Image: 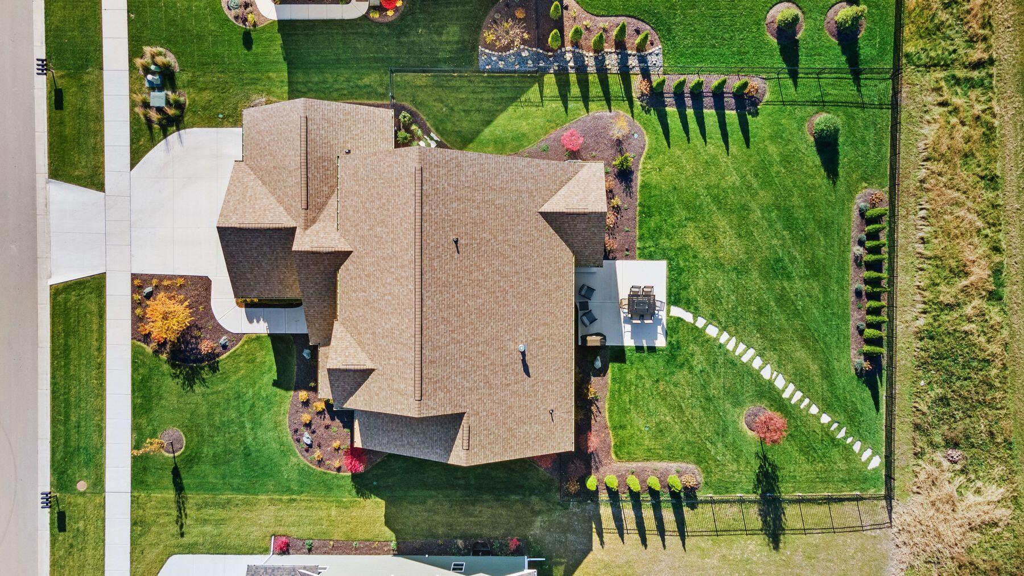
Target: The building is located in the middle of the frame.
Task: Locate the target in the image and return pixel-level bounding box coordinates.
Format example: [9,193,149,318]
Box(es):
[216,97,608,465]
